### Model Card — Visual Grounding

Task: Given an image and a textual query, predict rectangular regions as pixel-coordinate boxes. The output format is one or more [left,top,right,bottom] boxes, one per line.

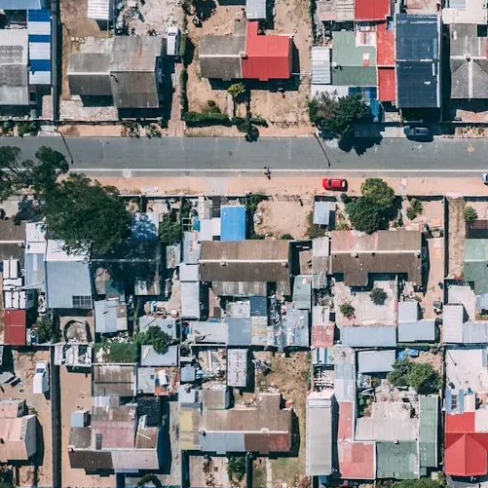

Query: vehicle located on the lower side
[29,364,46,392]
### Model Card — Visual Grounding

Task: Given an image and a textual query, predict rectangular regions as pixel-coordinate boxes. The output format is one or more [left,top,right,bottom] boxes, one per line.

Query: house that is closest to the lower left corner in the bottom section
[0,398,37,460]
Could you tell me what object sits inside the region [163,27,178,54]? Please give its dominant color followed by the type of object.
white vehicle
